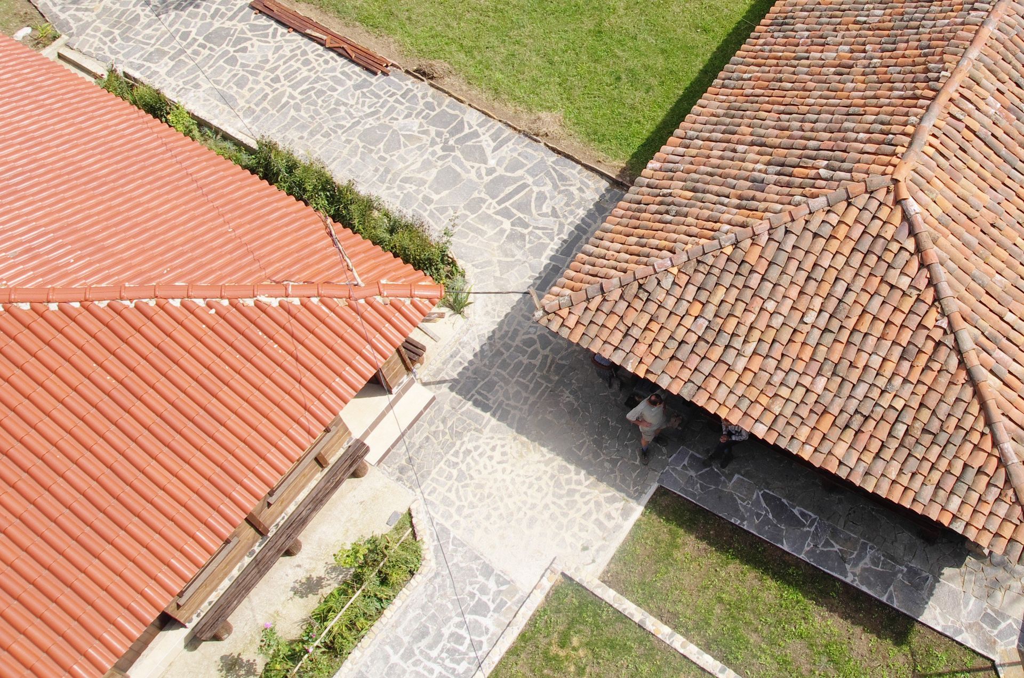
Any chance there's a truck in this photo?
No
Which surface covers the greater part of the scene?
buildings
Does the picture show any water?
No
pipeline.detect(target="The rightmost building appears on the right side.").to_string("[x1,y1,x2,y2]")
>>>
[534,0,1024,570]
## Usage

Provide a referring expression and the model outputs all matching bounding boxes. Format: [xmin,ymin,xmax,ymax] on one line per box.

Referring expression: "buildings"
[534,0,1024,570]
[0,27,447,678]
